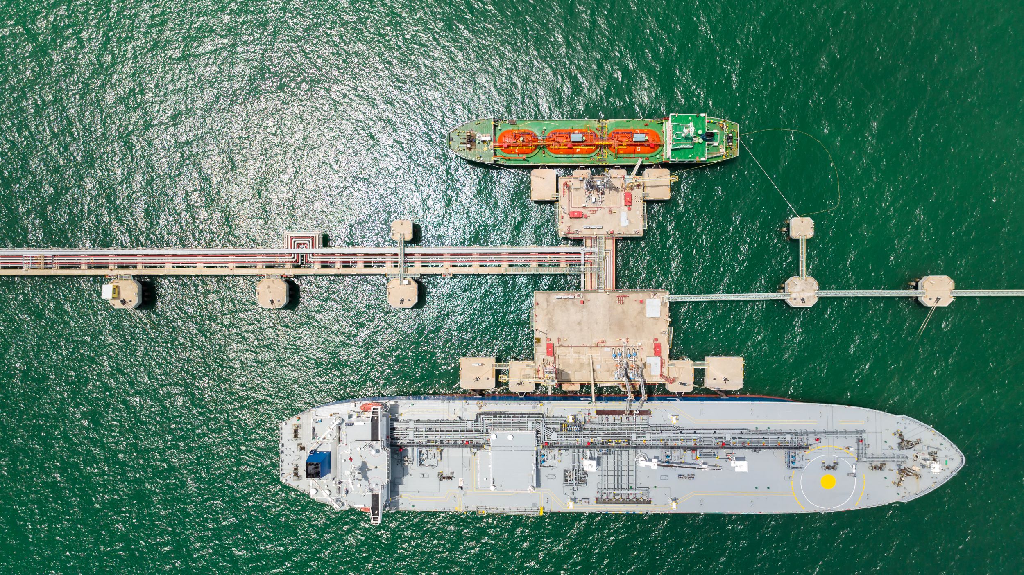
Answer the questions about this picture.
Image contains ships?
Yes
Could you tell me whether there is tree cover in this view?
No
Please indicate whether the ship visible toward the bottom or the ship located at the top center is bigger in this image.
the ship visible toward the bottom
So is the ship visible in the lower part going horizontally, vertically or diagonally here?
horizontally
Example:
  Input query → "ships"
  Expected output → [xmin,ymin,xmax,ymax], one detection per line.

[446,112,740,167]
[280,395,966,526]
